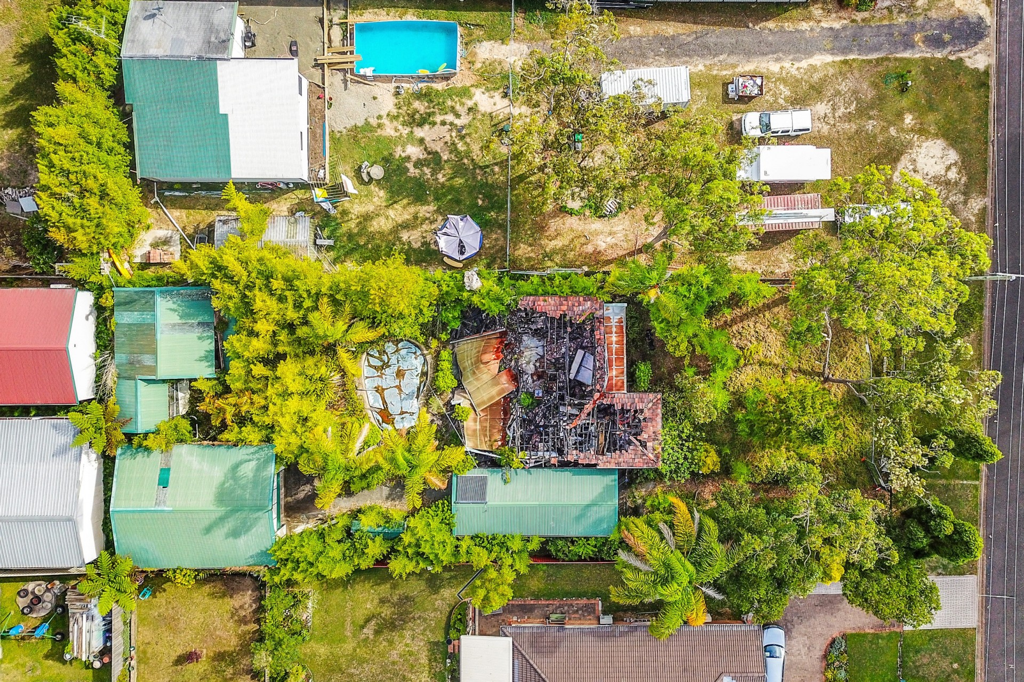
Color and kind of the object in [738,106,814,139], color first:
white truck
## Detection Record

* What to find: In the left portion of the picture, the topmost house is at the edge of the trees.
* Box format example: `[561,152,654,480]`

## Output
[118,0,312,182]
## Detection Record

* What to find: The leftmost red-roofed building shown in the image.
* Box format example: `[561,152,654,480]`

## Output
[0,286,94,405]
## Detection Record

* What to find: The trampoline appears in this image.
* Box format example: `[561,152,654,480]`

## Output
[434,213,484,262]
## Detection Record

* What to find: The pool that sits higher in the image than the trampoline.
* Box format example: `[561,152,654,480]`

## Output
[354,19,465,86]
